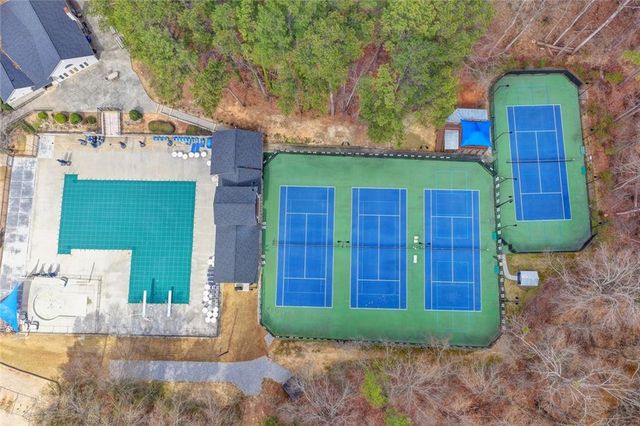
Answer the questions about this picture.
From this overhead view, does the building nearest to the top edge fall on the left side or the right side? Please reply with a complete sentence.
It is on the left.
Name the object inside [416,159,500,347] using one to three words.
tennis court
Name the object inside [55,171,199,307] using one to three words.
swimming pool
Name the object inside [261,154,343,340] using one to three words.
tennis court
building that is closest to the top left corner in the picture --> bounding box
[0,0,100,112]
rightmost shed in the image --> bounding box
[515,271,539,285]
